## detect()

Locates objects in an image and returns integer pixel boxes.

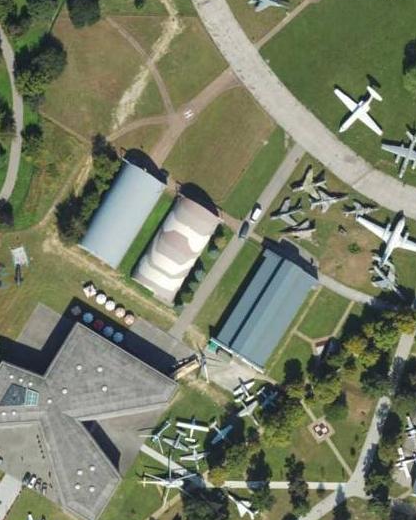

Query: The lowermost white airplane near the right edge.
[396,447,416,478]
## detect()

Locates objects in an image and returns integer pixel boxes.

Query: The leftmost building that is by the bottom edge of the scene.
[0,323,178,520]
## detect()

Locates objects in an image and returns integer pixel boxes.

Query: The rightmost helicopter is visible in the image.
[198,346,222,384]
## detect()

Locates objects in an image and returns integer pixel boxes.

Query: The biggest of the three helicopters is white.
[138,452,196,508]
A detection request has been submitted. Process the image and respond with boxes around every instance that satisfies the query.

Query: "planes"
[407,415,416,444]
[331,82,384,136]
[231,378,255,403]
[344,202,379,222]
[396,447,416,478]
[293,170,327,200]
[257,0,289,12]
[271,199,306,227]
[210,422,231,441]
[380,133,416,177]
[165,431,190,449]
[228,494,257,520]
[370,264,401,295]
[282,220,317,241]
[311,192,349,215]
[257,387,282,412]
[352,216,416,273]
[183,445,210,471]
[176,419,209,441]
[238,394,263,427]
